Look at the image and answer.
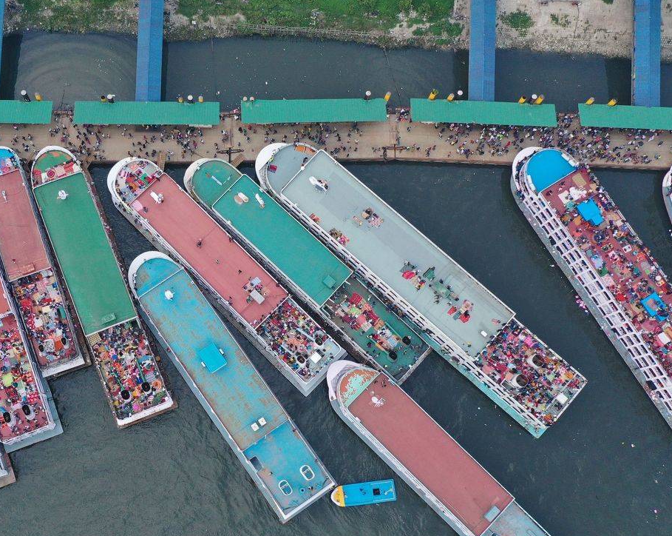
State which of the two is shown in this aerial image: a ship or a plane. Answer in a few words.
ship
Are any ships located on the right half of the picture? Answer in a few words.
Yes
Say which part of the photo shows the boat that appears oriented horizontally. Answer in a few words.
bottom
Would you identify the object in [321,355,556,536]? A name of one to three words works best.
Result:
ship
